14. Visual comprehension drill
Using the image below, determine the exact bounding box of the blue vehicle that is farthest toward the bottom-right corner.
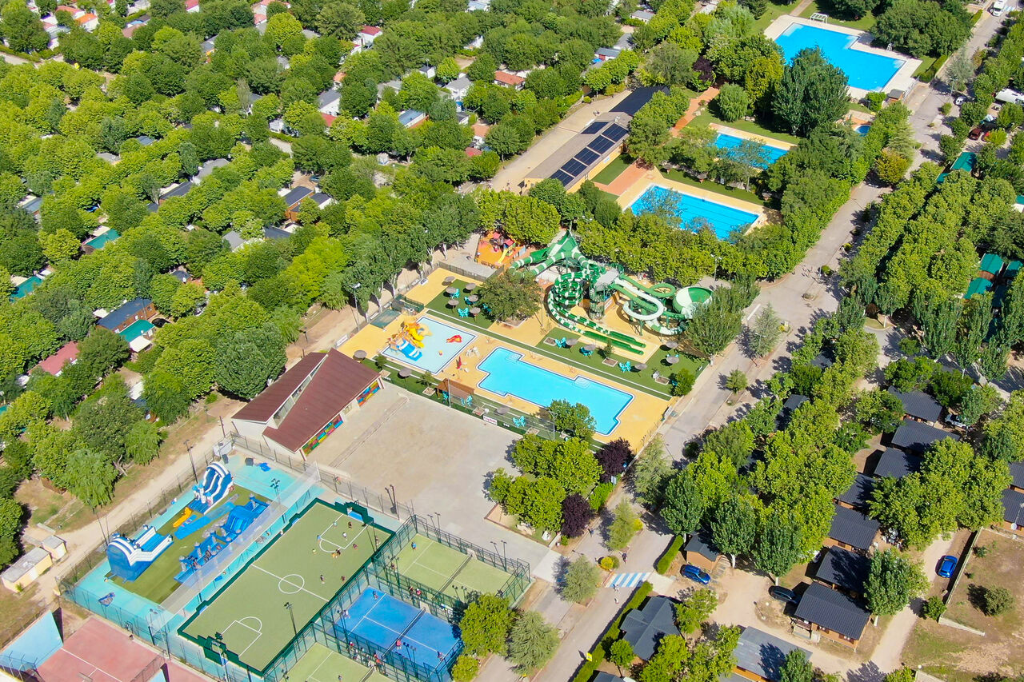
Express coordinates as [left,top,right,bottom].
[937,553,958,576]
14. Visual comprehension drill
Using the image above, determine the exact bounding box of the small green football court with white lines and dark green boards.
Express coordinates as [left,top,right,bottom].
[180,496,392,672]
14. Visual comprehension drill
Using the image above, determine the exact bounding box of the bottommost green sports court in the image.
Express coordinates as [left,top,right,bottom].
[262,622,431,682]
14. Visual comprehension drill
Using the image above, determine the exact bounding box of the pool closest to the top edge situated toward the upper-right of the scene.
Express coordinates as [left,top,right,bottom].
[759,21,909,93]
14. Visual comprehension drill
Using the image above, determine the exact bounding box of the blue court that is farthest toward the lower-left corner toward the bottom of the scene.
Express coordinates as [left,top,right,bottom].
[320,565,485,682]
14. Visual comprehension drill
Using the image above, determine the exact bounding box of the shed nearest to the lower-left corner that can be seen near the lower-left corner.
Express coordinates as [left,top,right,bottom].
[0,546,55,595]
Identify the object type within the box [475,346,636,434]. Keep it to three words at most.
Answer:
swimming pool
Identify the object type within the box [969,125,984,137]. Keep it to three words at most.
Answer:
vehicle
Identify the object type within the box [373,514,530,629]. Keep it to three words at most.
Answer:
sports court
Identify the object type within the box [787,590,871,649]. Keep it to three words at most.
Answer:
building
